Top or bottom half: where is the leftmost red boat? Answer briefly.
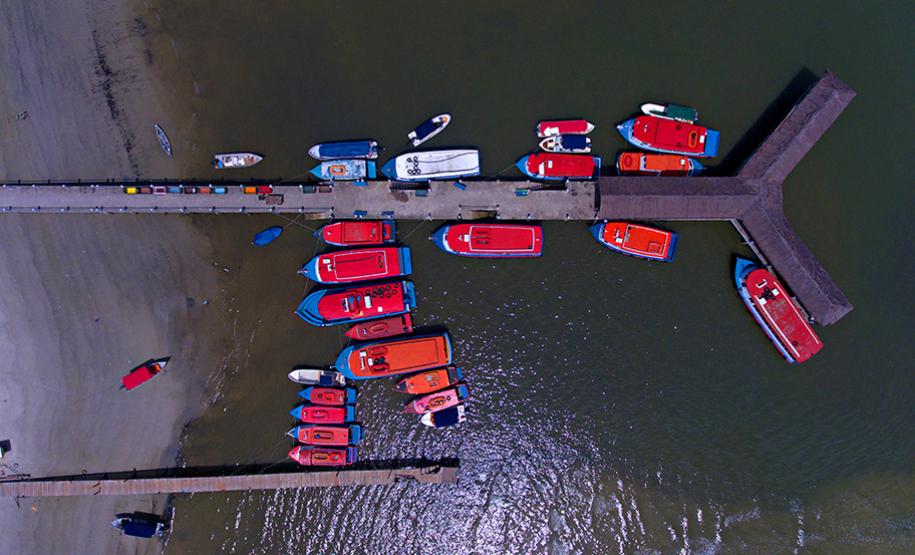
bottom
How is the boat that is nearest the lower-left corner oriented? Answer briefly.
from side to side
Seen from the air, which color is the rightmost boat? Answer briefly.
red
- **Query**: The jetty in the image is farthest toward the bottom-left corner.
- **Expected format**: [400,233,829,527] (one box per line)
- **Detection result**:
[0,464,459,497]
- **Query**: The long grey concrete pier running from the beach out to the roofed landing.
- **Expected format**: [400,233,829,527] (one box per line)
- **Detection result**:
[0,181,812,319]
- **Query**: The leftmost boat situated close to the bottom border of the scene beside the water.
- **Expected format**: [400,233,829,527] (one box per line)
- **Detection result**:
[110,517,167,542]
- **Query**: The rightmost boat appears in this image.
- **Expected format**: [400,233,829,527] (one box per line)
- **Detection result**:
[734,257,819,362]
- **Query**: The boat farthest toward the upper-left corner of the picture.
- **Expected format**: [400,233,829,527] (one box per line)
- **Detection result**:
[153,123,172,156]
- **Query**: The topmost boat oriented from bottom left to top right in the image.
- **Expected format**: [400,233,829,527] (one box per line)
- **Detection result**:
[409,116,450,147]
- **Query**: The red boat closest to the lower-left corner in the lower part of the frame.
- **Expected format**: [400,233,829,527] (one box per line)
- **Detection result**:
[120,357,172,390]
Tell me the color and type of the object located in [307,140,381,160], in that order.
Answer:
blue boat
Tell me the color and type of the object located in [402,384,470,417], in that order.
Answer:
pink boat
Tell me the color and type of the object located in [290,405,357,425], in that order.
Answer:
red boat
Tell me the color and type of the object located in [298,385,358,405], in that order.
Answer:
red boat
